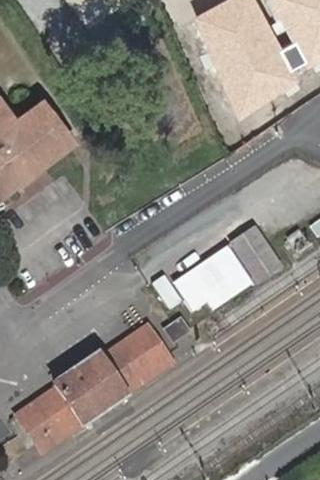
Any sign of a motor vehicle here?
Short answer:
Yes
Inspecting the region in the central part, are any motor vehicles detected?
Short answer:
Yes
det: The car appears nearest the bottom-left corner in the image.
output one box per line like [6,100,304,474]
[20,270,36,290]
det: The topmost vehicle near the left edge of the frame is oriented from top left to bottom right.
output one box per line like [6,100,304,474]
[6,208,24,230]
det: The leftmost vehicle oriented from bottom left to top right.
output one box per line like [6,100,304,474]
[116,218,138,236]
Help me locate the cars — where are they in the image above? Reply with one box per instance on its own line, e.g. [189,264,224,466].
[56,244,74,266]
[74,226,92,248]
[84,216,100,236]
[6,208,24,230]
[116,218,138,236]
[20,270,36,290]
[65,235,84,257]
[162,190,184,208]
[140,203,162,221]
